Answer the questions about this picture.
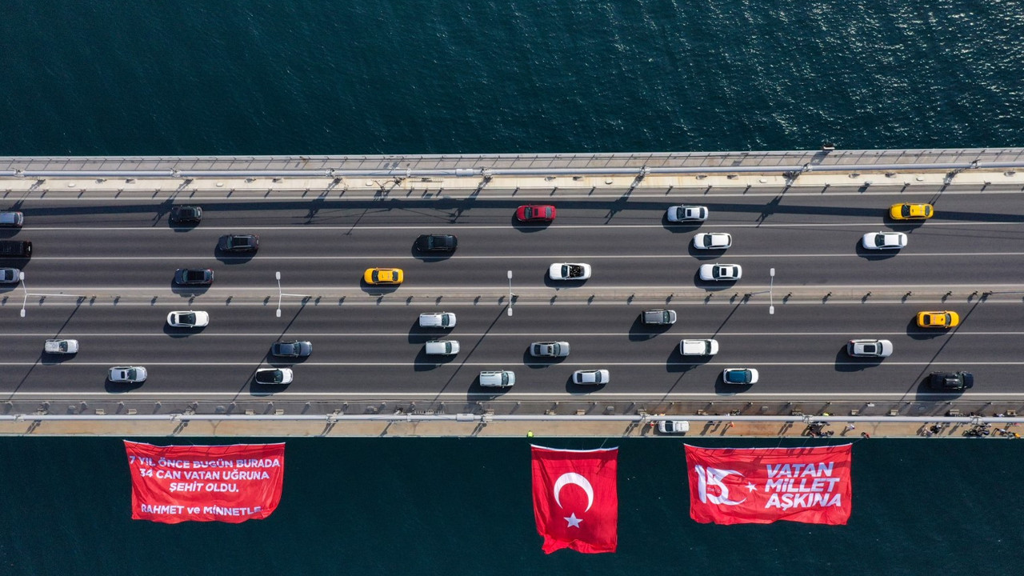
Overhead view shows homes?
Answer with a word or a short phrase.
No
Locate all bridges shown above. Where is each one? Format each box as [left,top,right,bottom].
[0,148,1024,439]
